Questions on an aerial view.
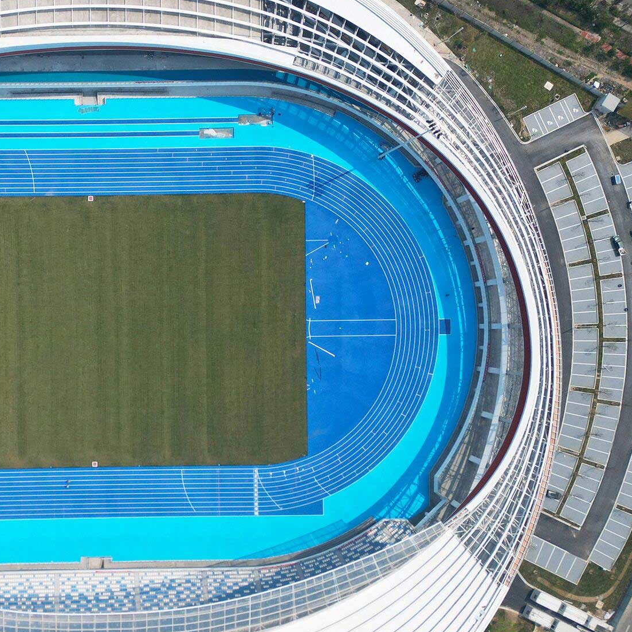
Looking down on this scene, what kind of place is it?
sports ground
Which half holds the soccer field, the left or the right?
left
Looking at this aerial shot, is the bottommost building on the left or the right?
right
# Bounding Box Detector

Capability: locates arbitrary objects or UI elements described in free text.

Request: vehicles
[546,489,564,501]
[612,234,630,257]
[611,170,625,187]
